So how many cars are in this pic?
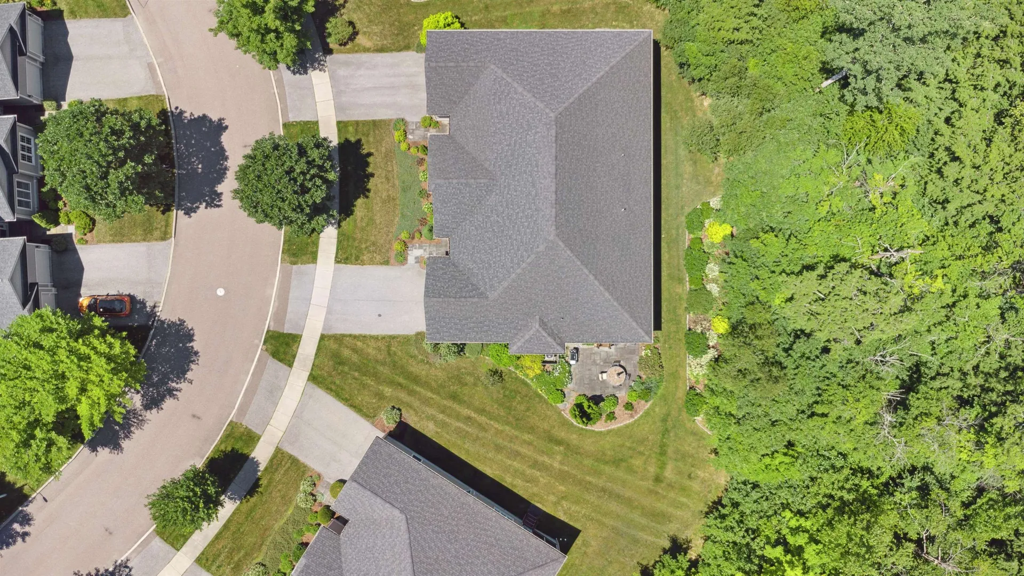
1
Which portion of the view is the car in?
left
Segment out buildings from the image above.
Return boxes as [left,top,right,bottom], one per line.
[0,1,57,338]
[423,29,653,355]
[292,432,569,576]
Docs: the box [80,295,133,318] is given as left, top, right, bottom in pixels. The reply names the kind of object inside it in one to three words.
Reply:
car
